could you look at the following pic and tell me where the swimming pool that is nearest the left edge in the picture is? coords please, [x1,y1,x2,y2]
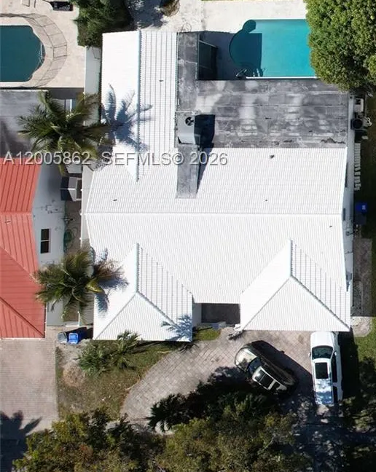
[0,23,50,84]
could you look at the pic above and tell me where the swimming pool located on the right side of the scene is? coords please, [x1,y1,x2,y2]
[228,17,330,78]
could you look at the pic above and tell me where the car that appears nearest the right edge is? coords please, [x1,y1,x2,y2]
[306,331,346,406]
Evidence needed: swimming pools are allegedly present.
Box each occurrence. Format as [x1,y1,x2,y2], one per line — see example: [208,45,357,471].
[0,23,50,84]
[228,17,330,78]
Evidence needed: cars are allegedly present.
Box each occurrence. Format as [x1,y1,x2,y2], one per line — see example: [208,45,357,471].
[236,348,308,408]
[306,331,346,406]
